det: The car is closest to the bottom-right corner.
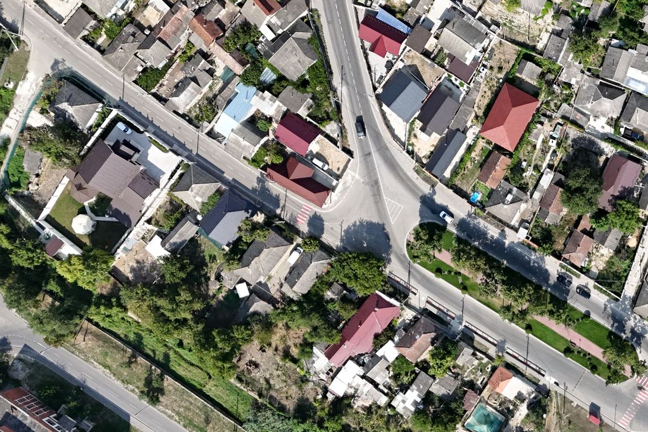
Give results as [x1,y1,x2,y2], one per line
[575,283,592,298]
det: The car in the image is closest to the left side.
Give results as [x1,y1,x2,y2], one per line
[116,119,134,135]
